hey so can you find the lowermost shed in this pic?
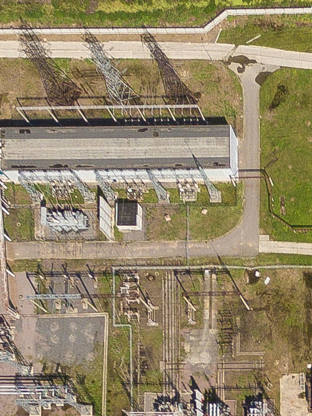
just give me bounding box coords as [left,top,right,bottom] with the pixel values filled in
[117,201,141,230]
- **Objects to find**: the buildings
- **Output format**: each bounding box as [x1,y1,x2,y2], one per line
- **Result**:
[117,201,141,230]
[0,125,237,183]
